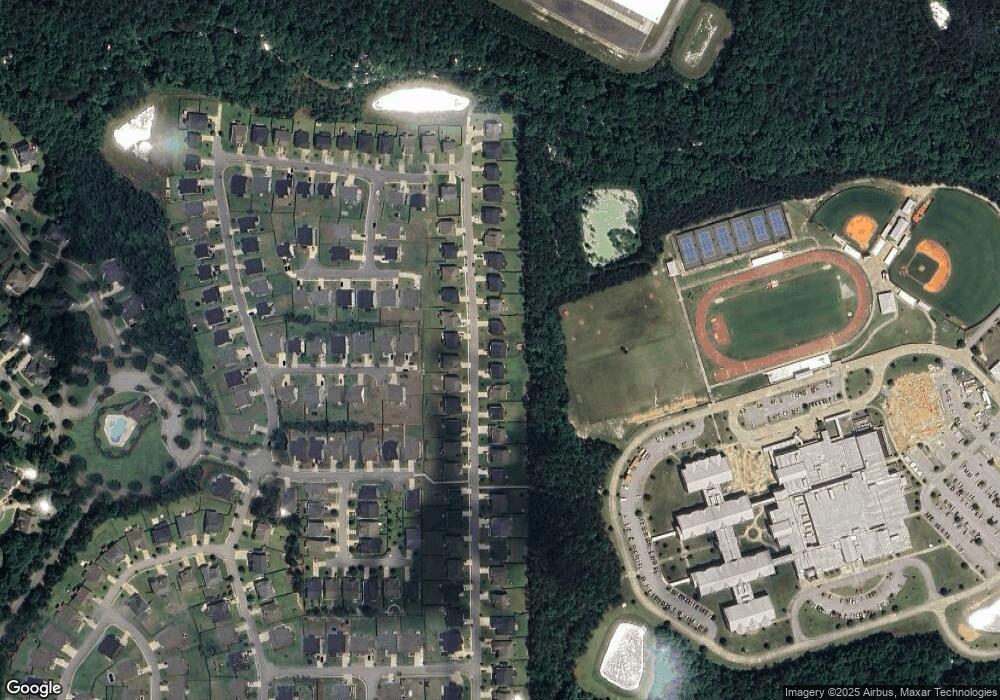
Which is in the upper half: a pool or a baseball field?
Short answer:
baseball field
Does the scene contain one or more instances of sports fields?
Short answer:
Yes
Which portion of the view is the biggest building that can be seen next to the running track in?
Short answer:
bottom right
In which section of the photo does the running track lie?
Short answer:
right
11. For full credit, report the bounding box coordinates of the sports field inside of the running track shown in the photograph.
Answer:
[720,271,840,351]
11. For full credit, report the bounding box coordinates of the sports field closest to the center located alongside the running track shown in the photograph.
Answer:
[558,277,706,426]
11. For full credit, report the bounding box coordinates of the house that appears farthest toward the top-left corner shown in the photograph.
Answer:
[16,140,34,167]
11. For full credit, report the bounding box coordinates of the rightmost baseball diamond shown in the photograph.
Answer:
[889,188,1000,329]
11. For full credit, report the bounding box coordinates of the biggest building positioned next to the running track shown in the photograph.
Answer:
[652,408,912,634]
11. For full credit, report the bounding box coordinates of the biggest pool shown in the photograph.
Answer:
[104,415,137,447]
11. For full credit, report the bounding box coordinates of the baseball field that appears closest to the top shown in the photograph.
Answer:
[811,187,902,253]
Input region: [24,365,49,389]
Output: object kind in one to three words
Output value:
house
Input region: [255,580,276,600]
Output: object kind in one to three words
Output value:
house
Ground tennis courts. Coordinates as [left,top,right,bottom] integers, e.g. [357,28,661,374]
[715,226,733,253]
[697,230,716,259]
[732,220,751,248]
[769,210,787,237]
[680,237,698,265]
[751,215,770,242]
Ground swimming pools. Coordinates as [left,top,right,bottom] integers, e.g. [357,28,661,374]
[105,671,115,684]
[104,415,137,447]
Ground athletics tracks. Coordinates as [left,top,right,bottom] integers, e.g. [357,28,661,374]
[695,248,872,377]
